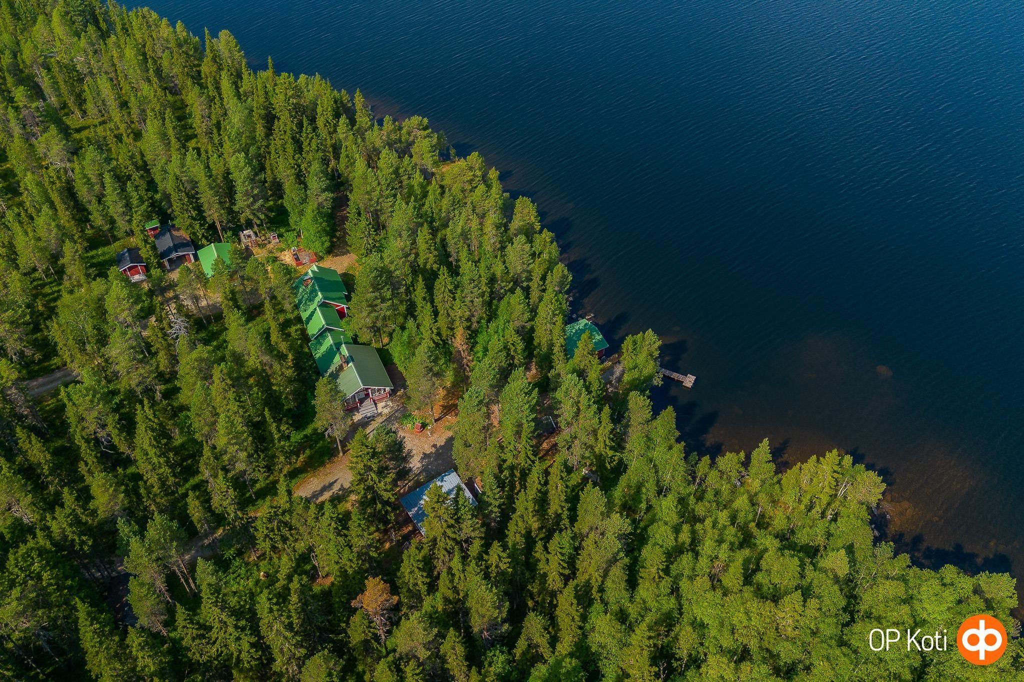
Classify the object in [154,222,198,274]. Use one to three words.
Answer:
building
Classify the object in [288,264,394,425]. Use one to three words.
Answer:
building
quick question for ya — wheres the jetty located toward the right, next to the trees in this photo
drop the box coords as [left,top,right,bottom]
[656,366,697,391]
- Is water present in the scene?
Yes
